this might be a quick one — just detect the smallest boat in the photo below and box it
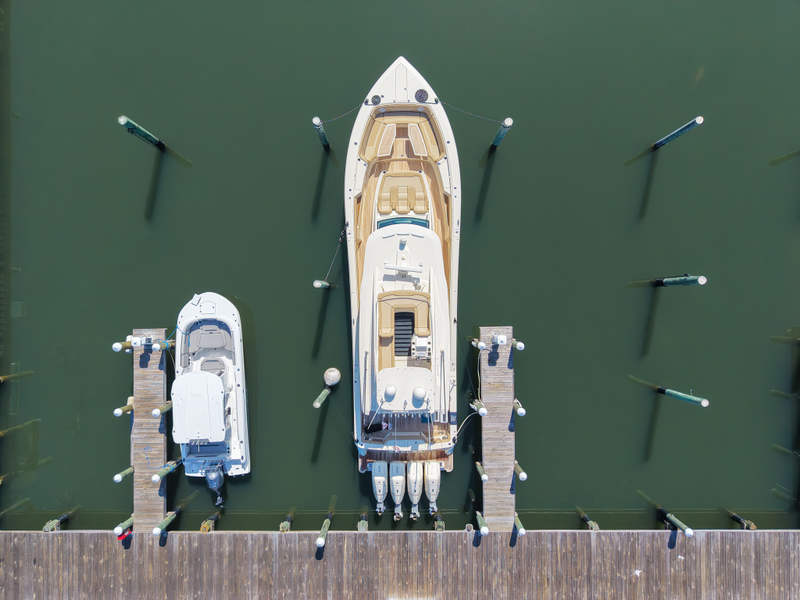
[172,291,252,502]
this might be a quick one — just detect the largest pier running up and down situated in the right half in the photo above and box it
[478,327,515,531]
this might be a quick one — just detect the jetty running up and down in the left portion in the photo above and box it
[132,330,170,531]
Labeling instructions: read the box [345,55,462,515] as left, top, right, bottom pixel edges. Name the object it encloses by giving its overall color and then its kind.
white boat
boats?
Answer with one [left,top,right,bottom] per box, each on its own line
[172,291,252,502]
[345,55,462,515]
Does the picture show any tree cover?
No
